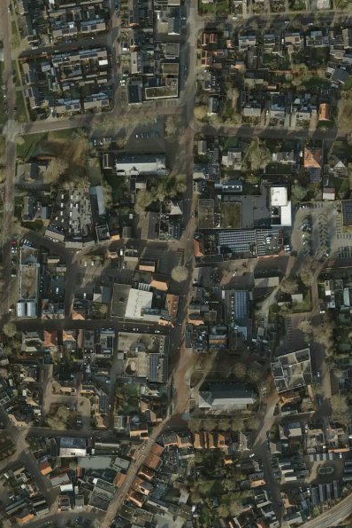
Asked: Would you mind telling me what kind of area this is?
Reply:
residential area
